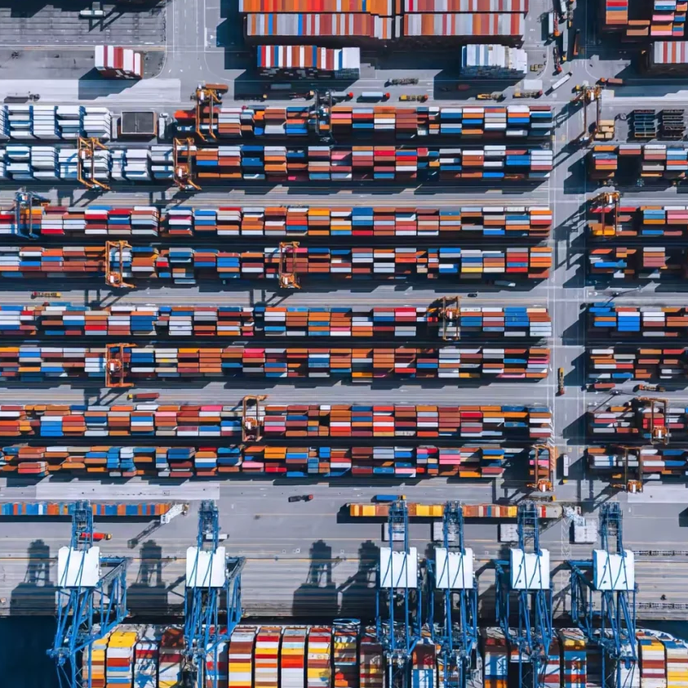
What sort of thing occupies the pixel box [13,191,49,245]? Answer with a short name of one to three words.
container crane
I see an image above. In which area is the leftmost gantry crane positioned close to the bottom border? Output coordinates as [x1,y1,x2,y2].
[42,498,133,688]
